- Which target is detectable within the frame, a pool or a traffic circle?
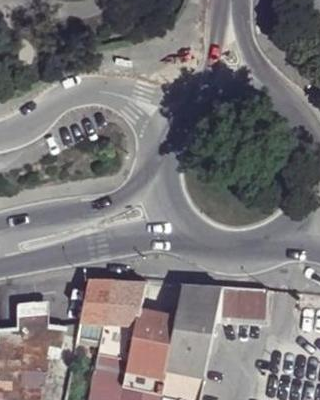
traffic circle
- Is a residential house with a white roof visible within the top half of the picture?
No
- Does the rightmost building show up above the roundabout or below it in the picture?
below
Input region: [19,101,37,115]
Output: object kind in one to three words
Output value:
car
